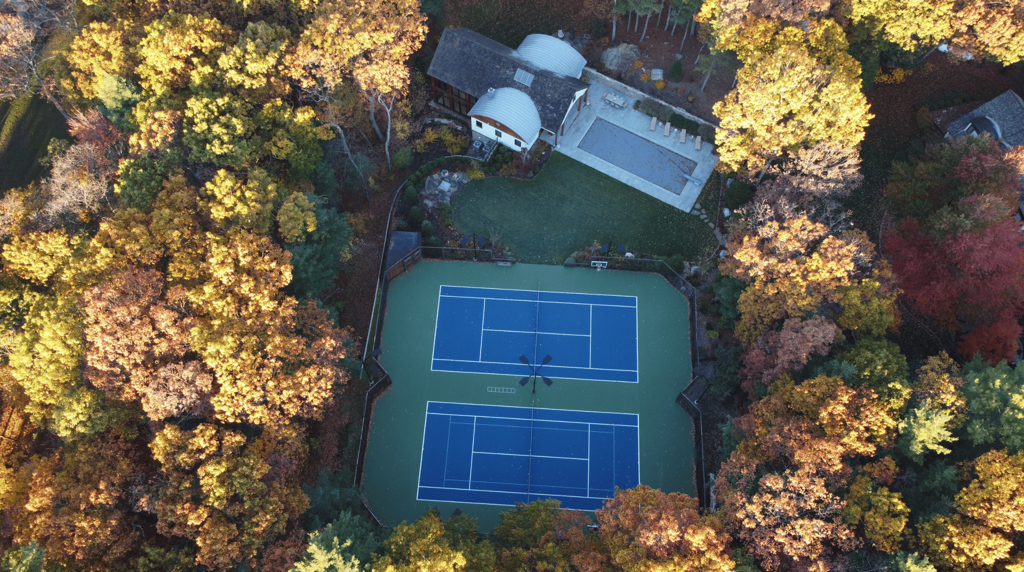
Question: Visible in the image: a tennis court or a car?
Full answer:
Looking from above, you can make out a tennis court.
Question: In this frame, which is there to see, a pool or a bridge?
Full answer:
This aerial view contains a pool.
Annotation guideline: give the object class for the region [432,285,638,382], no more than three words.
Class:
tennis court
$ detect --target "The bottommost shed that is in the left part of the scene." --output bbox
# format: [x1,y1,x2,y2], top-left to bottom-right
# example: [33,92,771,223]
[385,231,420,280]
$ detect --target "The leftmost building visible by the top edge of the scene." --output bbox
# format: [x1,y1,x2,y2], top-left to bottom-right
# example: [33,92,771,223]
[427,27,591,156]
